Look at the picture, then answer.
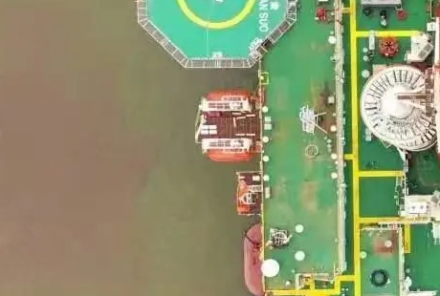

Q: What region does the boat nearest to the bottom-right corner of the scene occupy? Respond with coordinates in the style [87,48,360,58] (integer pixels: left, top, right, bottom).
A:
[236,172,260,215]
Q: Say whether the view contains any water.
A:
Yes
